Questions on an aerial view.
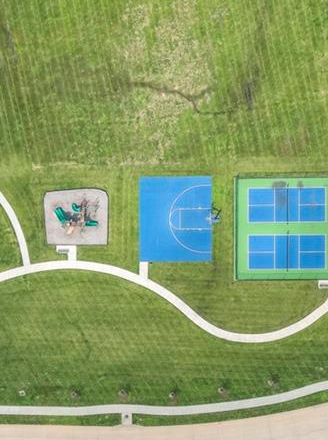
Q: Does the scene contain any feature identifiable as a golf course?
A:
No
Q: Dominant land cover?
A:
grass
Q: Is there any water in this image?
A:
No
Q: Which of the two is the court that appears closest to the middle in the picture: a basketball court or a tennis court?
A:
basketball court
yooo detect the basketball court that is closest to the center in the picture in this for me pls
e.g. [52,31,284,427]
[139,177,212,261]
